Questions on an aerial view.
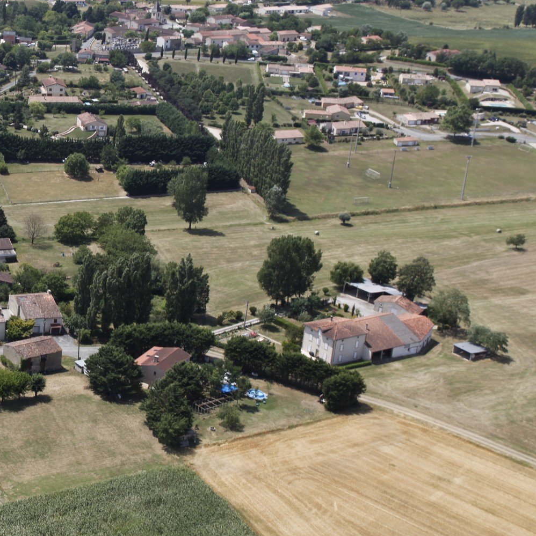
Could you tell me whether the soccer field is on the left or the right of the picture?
right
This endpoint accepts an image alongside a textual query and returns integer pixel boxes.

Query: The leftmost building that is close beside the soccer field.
[265,127,304,144]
